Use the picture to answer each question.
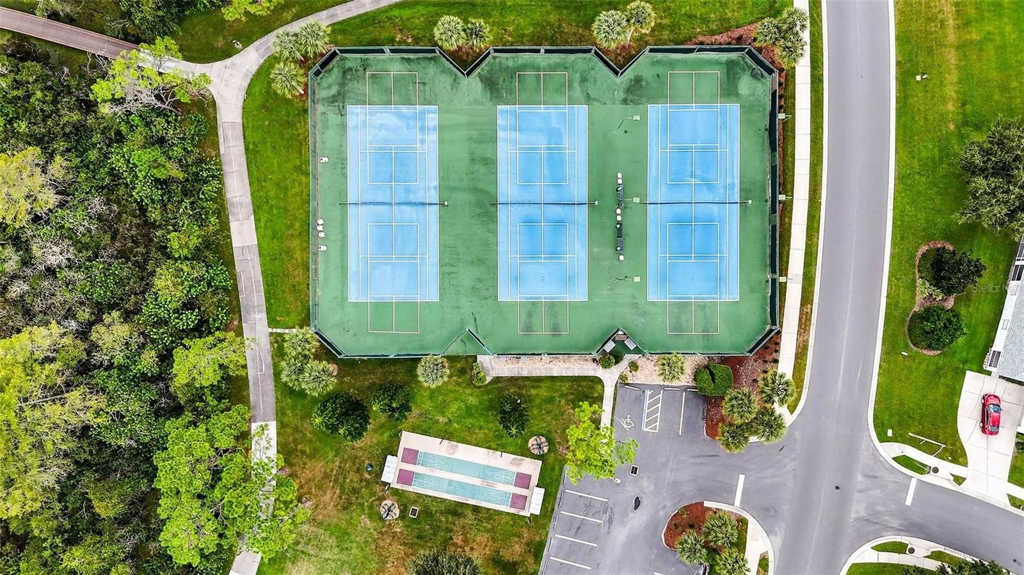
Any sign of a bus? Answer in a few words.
No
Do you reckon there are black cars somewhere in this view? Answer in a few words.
No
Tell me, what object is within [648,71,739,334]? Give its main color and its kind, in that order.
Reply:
blue tennis court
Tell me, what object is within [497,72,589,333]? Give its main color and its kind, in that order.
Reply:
blue tennis court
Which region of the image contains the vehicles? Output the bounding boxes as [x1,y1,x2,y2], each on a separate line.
[981,396,1005,436]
